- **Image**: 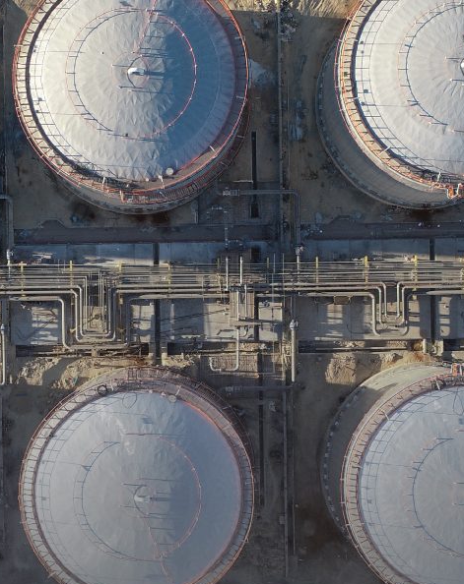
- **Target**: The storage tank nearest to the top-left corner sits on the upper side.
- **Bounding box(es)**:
[12,0,248,216]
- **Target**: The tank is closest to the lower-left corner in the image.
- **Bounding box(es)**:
[20,365,253,584]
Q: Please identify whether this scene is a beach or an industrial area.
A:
industrial area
